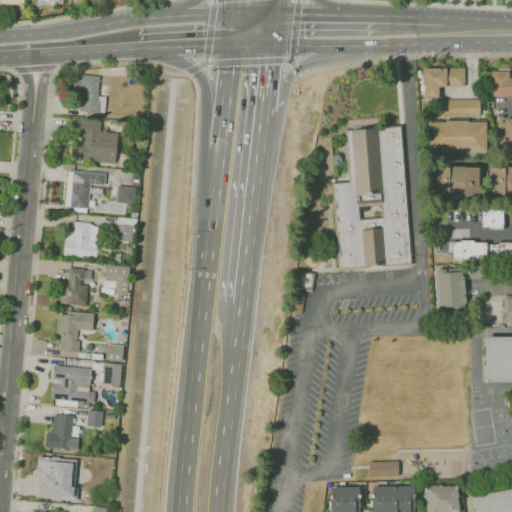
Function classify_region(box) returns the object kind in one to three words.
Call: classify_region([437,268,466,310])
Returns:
house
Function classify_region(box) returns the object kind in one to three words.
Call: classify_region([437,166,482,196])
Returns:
building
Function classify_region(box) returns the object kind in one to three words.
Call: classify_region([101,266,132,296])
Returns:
shed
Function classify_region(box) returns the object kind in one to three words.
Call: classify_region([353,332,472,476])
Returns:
sports field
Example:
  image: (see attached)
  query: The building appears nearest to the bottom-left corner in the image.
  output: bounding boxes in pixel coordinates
[36,456,80,504]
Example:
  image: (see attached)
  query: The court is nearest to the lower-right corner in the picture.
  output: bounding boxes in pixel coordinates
[473,442,512,477]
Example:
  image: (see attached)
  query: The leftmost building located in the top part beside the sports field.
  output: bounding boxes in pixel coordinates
[335,126,414,269]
